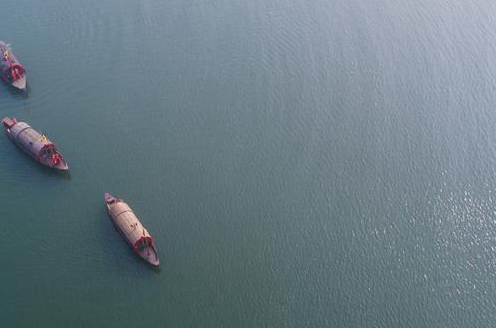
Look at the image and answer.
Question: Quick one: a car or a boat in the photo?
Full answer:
Of the two, only a boat appears.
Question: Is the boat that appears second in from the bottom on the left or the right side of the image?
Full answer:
You can find the boat that appears second in from the bottom on the left side of the picture.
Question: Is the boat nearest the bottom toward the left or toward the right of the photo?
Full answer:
You can find the boat nearest the bottom on the left side of the picture.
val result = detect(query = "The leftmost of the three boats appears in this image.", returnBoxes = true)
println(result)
[0,46,29,95]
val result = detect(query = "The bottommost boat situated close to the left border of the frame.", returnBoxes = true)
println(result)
[0,116,71,176]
